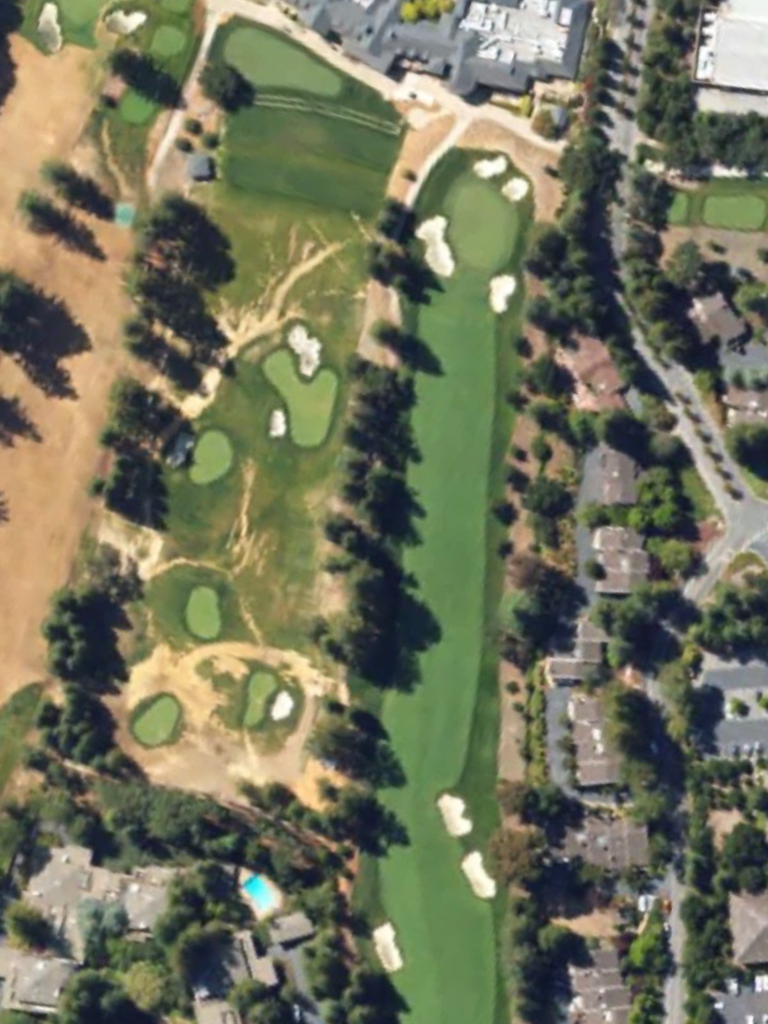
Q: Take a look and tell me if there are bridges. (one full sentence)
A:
No, I can't see a single bridge in this photo.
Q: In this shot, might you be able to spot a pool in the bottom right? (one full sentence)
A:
No, in the bottom right there is no pool.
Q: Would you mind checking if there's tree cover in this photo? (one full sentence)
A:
Yes, some tree cover is visible.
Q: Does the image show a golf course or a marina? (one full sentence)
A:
The area seen from above is a golf course.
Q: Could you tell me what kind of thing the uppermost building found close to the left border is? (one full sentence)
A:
The uppermost building found close to the left border is a home.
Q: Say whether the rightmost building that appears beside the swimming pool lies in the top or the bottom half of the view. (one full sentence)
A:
You can find the rightmost building that appears beside the swimming pool in the bottom half.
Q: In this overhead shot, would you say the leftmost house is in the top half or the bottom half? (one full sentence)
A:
The leftmost house is in the bottom half of the image.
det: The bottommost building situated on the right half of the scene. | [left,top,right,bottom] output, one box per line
[568,946,633,1024]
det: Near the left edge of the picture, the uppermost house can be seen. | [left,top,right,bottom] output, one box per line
[24,843,171,958]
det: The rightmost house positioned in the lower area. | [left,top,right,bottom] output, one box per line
[731,892,768,969]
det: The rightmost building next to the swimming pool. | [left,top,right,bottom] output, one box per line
[271,912,312,943]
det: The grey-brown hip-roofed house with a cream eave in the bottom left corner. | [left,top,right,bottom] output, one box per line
[0,950,77,1013]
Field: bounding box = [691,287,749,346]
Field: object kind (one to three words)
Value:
house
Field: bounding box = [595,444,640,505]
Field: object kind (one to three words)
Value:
house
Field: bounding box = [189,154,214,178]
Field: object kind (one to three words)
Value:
building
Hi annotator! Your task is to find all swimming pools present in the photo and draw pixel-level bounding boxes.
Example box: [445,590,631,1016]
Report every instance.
[236,865,282,923]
